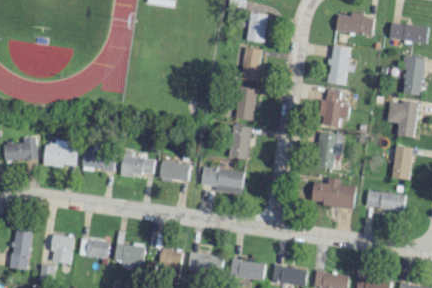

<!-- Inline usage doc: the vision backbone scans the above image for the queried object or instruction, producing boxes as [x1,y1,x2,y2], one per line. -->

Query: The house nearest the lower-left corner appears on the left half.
[9,232,32,270]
